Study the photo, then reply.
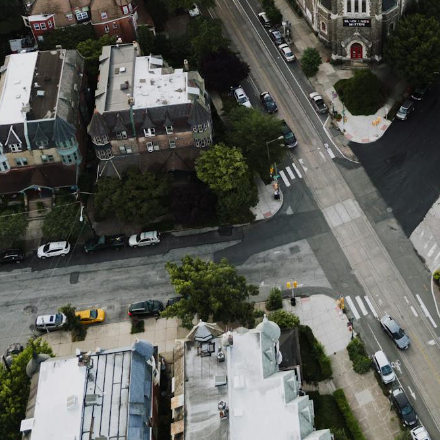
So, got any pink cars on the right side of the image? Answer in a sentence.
No, there is no pink car on the right side of the image.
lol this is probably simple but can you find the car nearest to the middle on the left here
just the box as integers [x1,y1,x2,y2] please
[126,227,162,248]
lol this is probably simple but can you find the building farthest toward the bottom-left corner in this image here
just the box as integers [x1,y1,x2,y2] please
[23,342,173,440]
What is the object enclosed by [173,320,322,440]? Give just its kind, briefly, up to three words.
house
